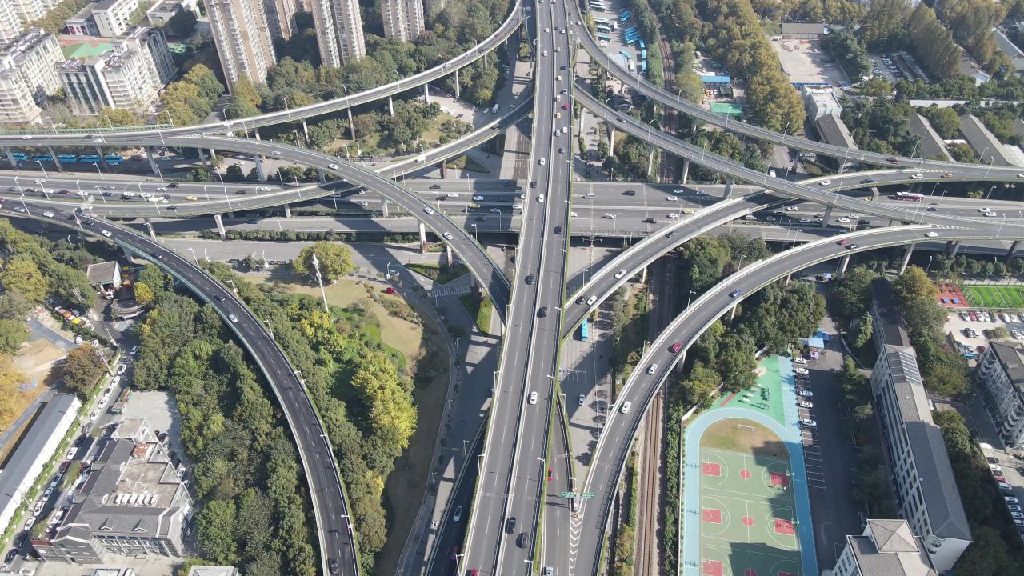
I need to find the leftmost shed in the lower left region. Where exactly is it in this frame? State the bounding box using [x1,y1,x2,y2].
[0,387,85,533]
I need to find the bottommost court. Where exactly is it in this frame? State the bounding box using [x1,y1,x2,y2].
[698,447,804,576]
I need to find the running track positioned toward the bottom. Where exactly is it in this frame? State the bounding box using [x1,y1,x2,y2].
[686,408,818,576]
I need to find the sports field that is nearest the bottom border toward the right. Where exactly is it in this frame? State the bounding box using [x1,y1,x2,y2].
[698,416,802,569]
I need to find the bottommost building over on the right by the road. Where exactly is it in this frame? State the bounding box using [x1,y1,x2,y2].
[828,519,941,576]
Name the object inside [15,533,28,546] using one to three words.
vehicle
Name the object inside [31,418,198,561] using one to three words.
building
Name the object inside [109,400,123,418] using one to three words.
vehicle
